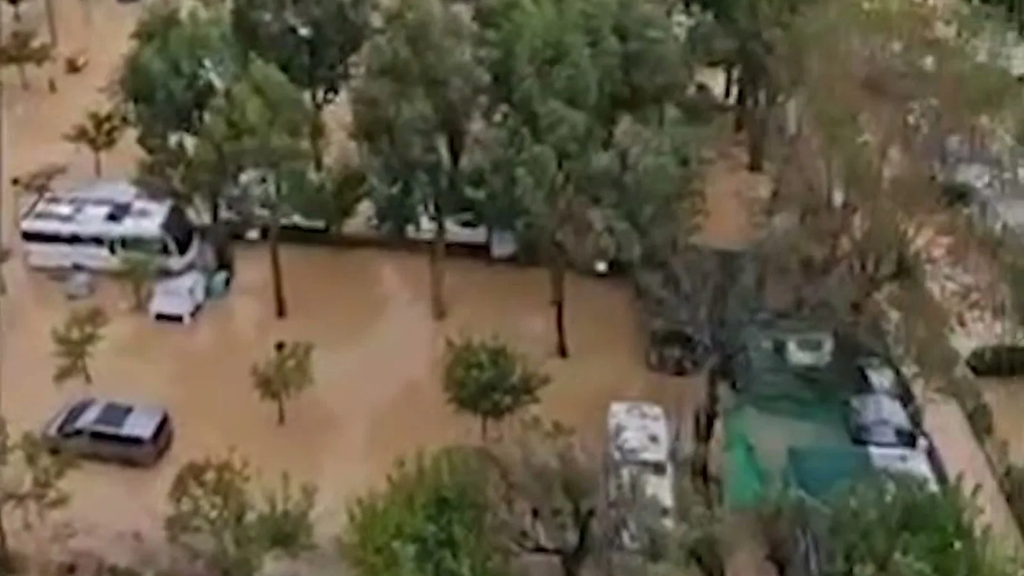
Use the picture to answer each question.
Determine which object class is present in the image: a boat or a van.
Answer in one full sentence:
Of the two, only a van appears.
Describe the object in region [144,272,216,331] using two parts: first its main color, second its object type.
white van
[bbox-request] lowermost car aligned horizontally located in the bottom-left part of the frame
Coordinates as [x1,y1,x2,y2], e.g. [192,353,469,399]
[44,395,177,460]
